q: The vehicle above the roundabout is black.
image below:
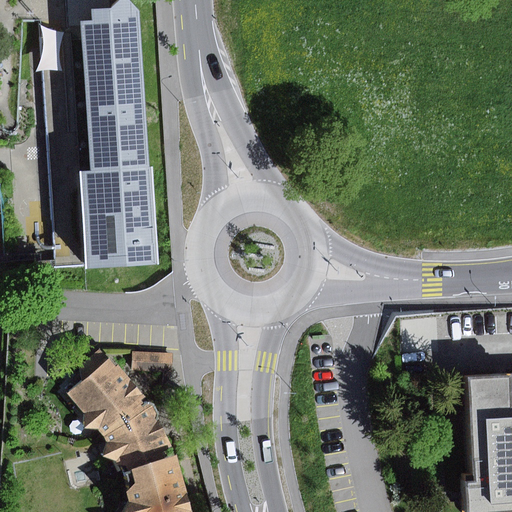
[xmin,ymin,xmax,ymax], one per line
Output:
[208,54,222,79]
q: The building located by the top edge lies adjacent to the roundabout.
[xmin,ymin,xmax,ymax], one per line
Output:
[80,0,150,170]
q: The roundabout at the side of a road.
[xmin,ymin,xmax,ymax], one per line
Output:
[186,180,330,328]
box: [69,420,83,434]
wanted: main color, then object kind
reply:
white umbrella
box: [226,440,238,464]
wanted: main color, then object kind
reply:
white vehicle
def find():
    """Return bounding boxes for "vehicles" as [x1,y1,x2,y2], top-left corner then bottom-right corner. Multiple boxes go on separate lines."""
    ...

[322,442,344,453]
[320,430,342,441]
[326,466,346,476]
[313,370,333,380]
[474,314,484,336]
[317,393,338,404]
[315,382,338,392]
[402,352,426,363]
[312,357,334,367]
[433,267,454,277]
[404,363,425,373]
[485,314,496,334]
[450,317,462,342]
[208,54,222,79]
[507,313,512,334]
[226,440,238,464]
[462,314,473,336]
